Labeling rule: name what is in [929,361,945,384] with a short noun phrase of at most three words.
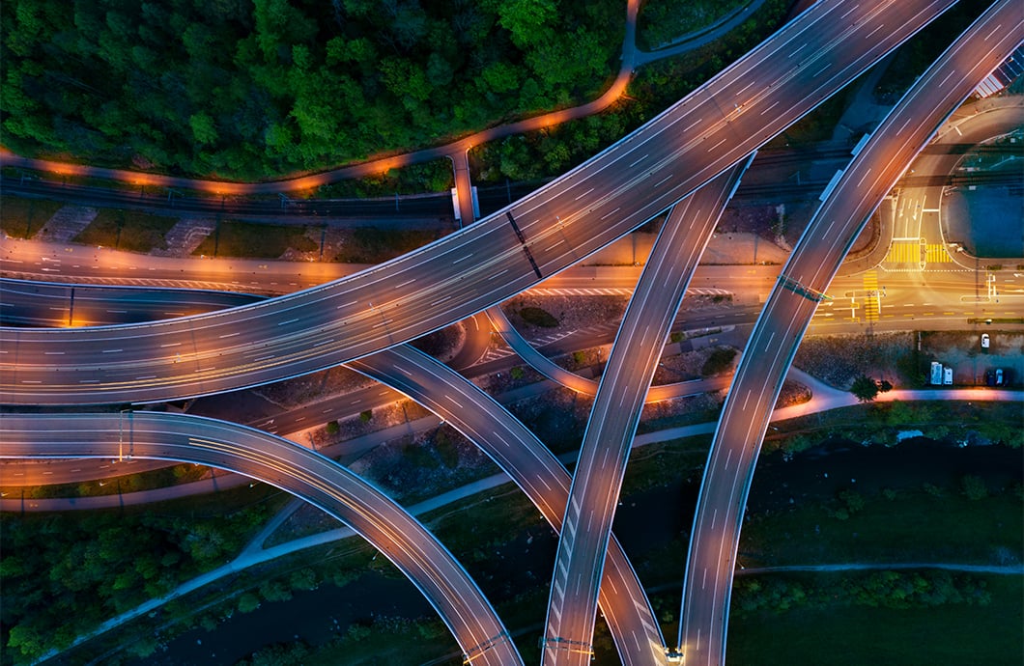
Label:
vehicle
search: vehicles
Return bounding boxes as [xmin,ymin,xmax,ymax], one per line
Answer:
[1003,370,1012,385]
[980,333,990,347]
[994,369,1003,384]
[944,367,955,384]
[929,361,945,384]
[986,370,995,385]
